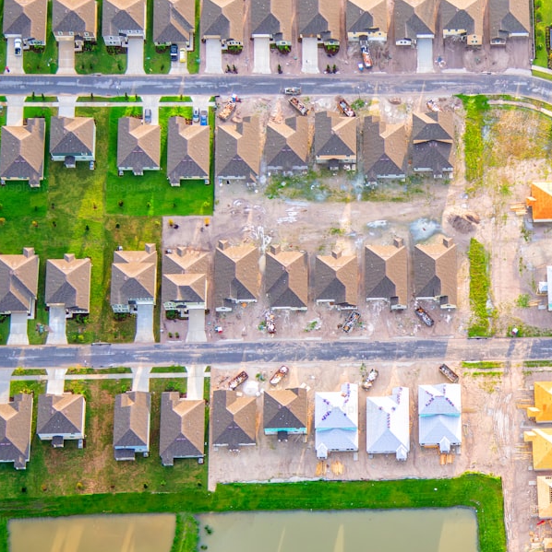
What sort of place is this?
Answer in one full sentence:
This looks like a residential area.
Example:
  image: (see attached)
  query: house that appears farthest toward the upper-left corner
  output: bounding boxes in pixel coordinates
[2,0,49,49]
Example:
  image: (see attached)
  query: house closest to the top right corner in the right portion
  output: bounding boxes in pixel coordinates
[488,0,530,48]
